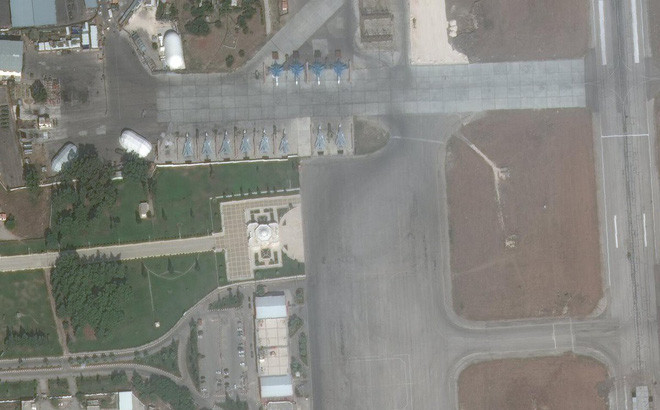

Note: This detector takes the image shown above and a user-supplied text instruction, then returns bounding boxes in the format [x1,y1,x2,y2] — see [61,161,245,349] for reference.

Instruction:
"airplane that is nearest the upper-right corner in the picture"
[331,60,346,82]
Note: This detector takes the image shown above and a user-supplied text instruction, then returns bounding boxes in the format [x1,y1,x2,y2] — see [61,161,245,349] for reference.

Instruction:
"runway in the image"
[586,0,660,410]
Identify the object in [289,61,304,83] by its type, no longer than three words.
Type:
airplane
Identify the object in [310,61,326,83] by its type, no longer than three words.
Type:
airplane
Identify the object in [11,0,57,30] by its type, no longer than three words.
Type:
hangar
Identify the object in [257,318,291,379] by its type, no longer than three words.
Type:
building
